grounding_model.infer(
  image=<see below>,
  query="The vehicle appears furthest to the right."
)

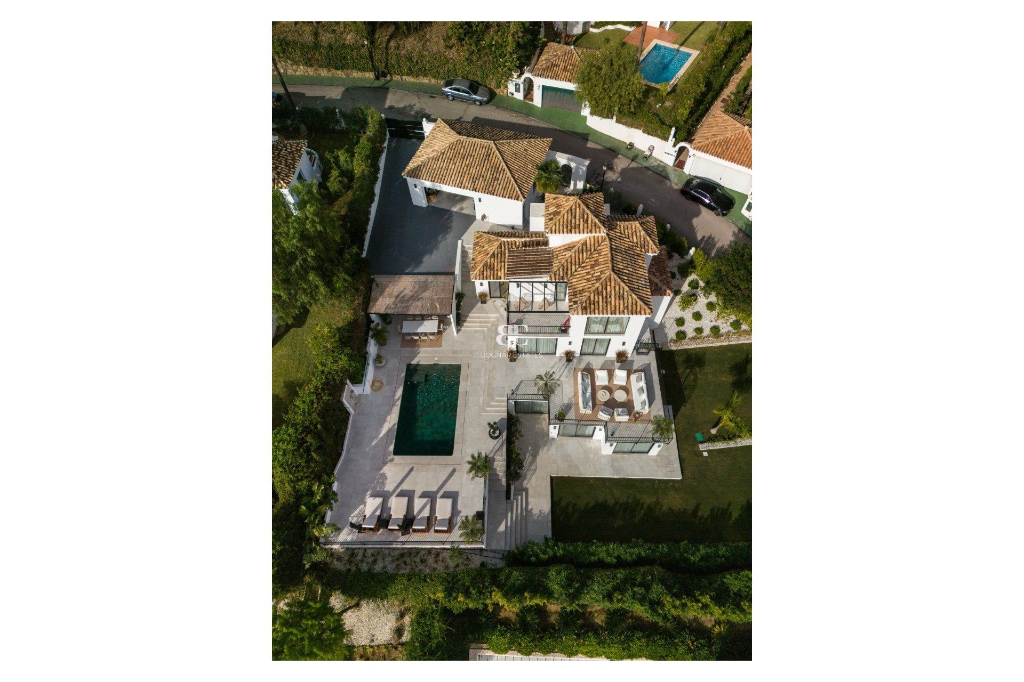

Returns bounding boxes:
[677,176,739,216]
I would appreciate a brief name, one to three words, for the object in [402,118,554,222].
building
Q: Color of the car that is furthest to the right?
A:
black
